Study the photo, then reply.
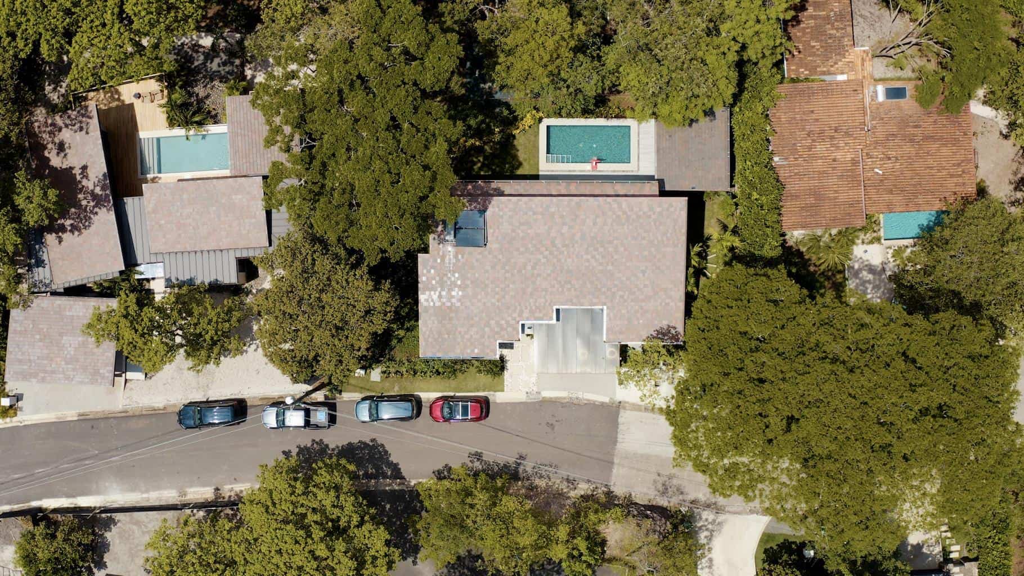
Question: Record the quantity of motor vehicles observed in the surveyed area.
four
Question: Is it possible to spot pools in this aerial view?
Yes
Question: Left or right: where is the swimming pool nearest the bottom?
right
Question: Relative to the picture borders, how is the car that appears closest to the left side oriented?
horizontally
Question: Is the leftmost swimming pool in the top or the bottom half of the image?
top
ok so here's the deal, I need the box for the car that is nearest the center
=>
[429,398,485,427]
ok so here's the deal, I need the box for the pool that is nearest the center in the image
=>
[539,118,638,172]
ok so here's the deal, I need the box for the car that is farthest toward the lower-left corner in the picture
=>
[175,397,239,427]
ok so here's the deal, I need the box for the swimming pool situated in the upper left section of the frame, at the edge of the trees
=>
[137,125,230,183]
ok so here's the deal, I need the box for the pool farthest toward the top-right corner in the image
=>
[876,204,956,245]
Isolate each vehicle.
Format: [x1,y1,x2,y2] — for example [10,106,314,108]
[429,398,485,427]
[353,398,417,427]
[175,397,239,427]
[260,400,331,429]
